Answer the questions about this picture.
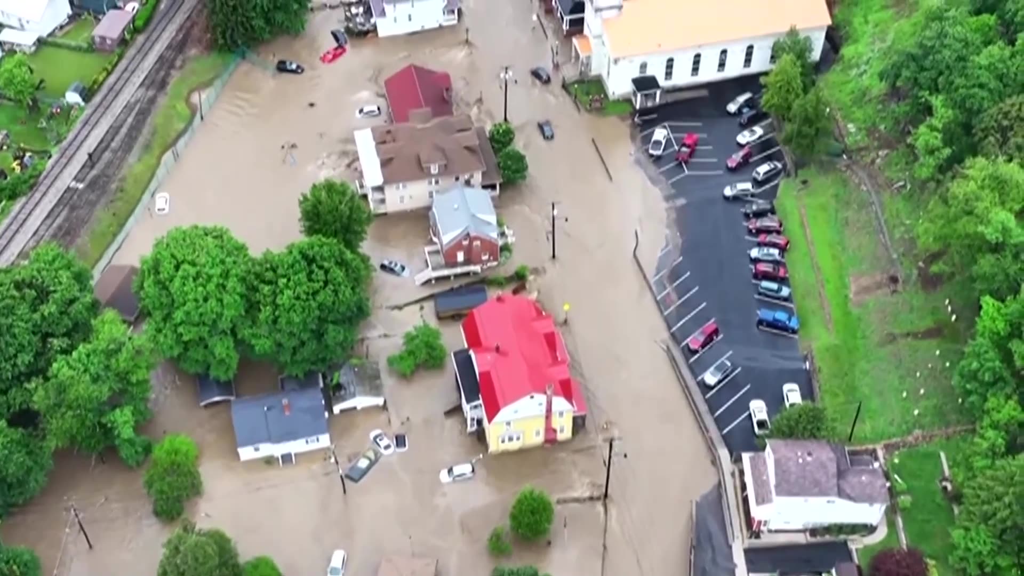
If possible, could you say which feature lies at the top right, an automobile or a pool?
automobile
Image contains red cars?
Yes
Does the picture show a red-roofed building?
Yes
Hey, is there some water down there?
Yes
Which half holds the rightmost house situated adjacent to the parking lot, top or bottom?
bottom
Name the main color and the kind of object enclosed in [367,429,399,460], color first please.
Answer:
white car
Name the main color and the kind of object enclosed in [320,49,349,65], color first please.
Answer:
red car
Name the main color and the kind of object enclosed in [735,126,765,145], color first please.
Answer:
white car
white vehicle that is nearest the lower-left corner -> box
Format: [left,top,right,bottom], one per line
[327,550,348,576]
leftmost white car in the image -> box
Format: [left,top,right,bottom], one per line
[155,195,170,218]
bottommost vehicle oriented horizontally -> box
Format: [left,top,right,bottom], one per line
[439,463,476,484]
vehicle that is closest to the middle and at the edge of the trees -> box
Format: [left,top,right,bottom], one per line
[378,260,413,282]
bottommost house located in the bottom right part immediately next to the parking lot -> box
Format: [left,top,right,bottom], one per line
[744,444,889,532]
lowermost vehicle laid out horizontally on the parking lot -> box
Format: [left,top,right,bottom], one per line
[755,309,800,331]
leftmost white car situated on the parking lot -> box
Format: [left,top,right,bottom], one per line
[650,129,667,156]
